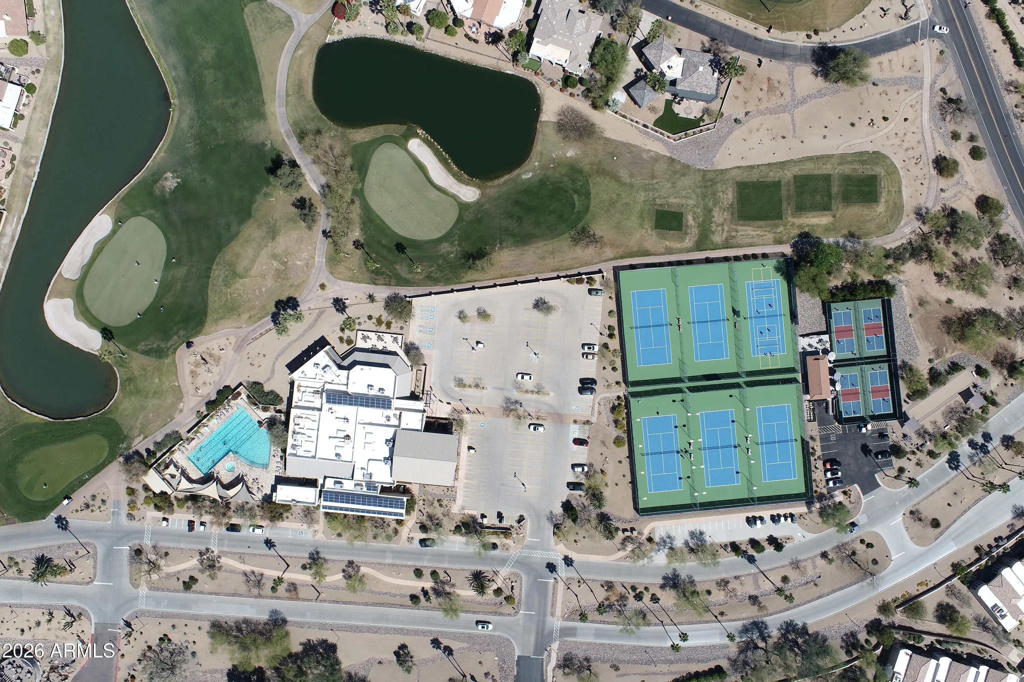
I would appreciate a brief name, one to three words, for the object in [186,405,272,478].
swimming pool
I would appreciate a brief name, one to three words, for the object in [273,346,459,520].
building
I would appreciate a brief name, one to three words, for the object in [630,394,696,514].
tennis court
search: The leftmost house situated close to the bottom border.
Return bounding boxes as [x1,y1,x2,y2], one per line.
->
[881,641,938,682]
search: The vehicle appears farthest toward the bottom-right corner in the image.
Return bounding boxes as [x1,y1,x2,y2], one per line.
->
[844,522,860,534]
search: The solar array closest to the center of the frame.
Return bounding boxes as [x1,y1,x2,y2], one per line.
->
[325,394,392,409]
